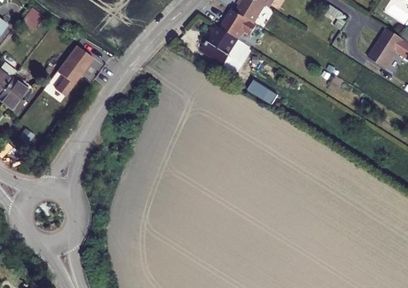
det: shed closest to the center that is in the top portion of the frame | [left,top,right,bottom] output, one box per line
[248,80,278,105]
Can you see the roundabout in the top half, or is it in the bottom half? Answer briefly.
bottom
